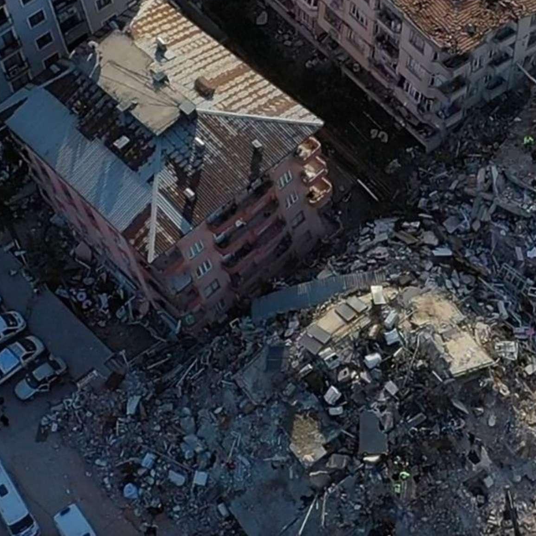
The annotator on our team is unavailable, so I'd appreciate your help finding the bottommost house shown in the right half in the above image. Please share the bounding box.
[394,366,458,426]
